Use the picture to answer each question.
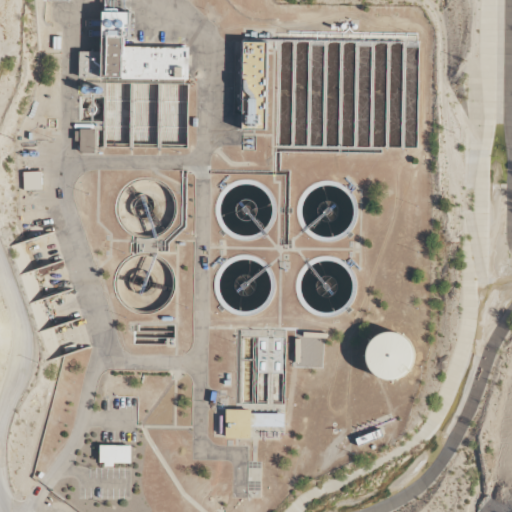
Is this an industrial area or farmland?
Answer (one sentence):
This looks like an industrial area.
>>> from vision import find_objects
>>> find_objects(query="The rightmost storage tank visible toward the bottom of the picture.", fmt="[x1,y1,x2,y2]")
[364,330,416,386]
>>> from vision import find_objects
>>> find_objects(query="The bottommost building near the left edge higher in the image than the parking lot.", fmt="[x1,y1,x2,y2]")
[23,168,42,190]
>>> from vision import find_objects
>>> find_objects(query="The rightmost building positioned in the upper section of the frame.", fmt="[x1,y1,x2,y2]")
[242,41,267,130]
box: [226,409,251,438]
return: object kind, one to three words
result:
building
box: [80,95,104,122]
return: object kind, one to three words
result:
water tank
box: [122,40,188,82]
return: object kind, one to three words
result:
building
